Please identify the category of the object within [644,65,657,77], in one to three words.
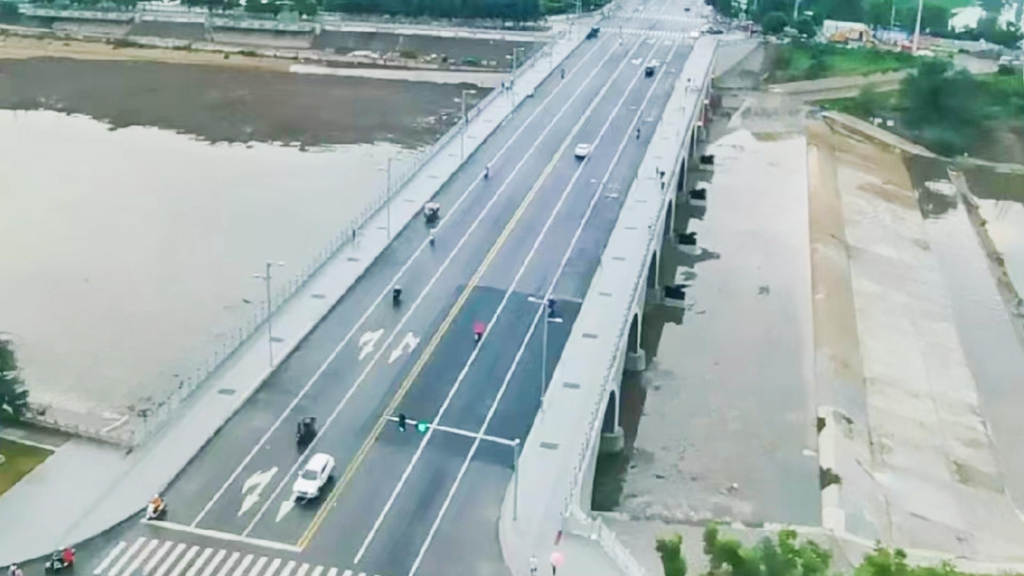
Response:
vehicle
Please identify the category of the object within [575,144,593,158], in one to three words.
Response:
car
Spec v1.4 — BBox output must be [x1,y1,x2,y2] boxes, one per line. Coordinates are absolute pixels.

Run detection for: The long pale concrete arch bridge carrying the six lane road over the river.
[129,27,720,495]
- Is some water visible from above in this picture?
Yes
